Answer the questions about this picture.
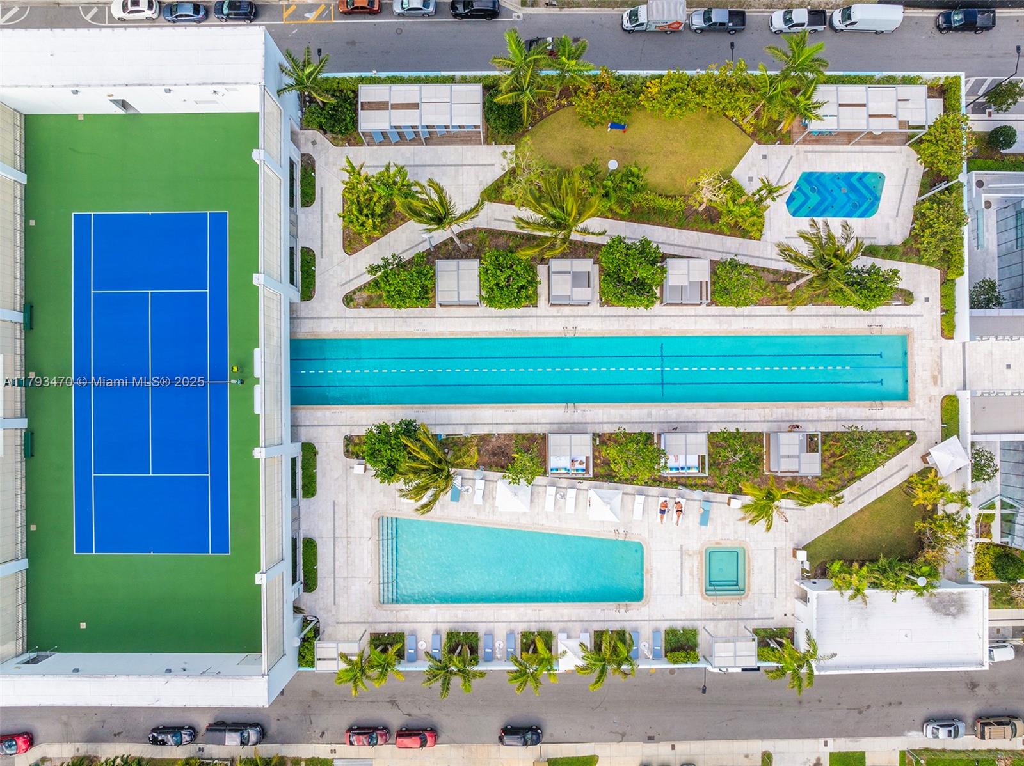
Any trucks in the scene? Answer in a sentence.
Yes, the picture does show a truck.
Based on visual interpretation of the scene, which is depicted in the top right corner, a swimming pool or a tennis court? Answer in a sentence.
The feature located in the top right corner is a swimming pool.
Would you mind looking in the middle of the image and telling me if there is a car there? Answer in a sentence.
No, there is no car in the middle of the image.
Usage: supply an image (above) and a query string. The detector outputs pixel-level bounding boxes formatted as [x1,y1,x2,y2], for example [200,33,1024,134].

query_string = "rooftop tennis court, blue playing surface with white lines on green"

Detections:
[25,113,276,653]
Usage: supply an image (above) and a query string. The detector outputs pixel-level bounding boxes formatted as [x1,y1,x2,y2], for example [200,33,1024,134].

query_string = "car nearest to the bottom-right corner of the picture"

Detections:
[973,718,1024,744]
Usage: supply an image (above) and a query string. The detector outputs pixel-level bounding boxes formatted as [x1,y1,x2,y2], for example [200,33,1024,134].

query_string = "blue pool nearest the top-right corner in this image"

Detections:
[785,170,887,219]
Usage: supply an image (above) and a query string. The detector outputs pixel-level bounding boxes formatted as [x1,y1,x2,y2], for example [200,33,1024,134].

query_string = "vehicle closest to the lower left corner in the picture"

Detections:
[0,731,34,756]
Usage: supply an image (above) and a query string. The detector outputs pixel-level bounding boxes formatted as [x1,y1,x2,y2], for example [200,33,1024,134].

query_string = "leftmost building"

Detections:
[0,25,300,707]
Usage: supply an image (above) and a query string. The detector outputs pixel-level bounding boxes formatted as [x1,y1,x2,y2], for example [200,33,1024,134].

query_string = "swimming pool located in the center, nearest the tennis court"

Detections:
[290,326,917,413]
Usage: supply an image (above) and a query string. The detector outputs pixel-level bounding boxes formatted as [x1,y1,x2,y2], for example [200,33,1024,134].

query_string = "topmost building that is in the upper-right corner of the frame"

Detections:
[793,85,927,145]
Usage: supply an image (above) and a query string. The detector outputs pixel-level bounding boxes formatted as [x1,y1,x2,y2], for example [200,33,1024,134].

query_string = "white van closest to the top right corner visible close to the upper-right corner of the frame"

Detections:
[830,0,909,32]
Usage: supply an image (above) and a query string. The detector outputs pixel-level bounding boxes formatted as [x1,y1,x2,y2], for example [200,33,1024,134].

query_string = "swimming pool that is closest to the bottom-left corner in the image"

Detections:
[370,508,652,612]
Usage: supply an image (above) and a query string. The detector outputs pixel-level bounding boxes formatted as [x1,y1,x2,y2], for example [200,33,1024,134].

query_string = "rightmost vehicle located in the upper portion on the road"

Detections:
[934,5,998,33]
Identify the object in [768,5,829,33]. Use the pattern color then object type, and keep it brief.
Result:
white truck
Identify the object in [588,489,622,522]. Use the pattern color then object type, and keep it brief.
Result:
white umbrella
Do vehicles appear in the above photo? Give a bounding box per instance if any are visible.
[0,731,34,756]
[204,723,265,750]
[163,0,208,23]
[111,0,161,19]
[451,0,500,20]
[830,0,909,32]
[768,5,829,33]
[990,642,1017,663]
[338,0,382,15]
[499,727,542,752]
[921,720,965,745]
[148,727,198,751]
[395,729,438,754]
[688,5,747,33]
[973,718,1024,744]
[345,728,391,752]
[622,0,692,32]
[213,0,258,21]
[934,5,998,33]
[392,0,437,17]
